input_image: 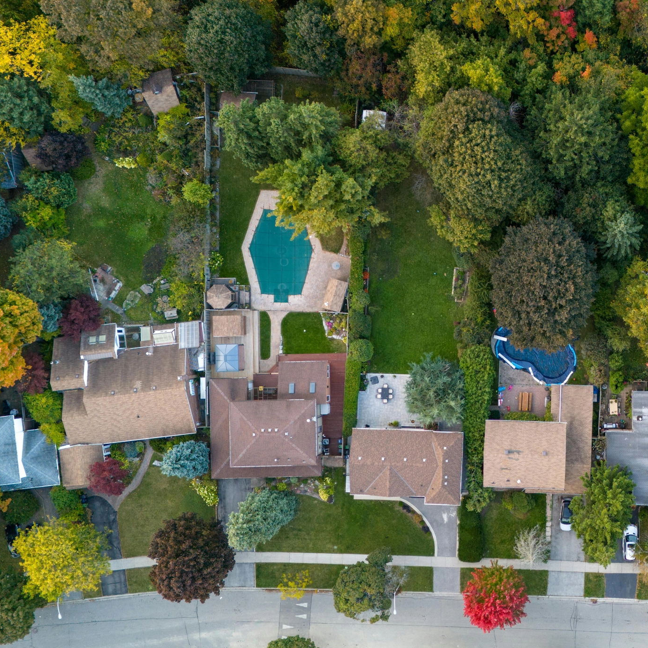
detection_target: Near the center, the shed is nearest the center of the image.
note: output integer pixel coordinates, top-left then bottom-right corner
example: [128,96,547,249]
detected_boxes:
[323,278,349,312]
